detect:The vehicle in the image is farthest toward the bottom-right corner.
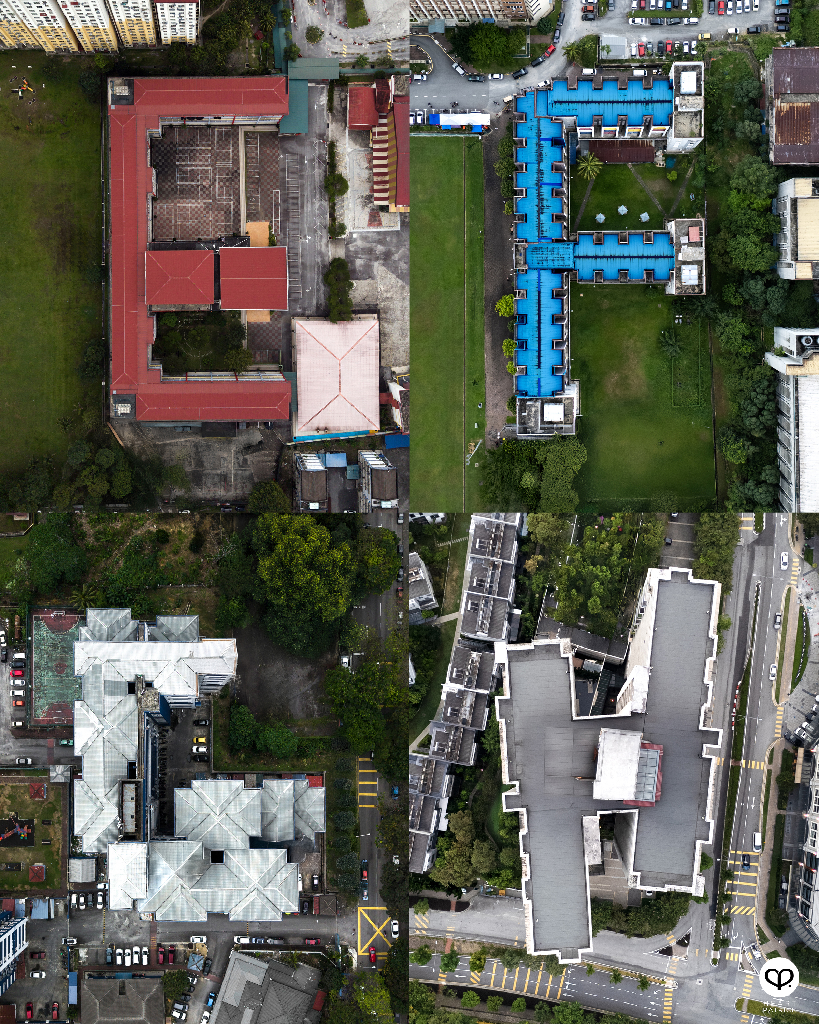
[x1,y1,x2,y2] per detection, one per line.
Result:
[751,944,764,963]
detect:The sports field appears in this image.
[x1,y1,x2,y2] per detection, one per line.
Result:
[0,48,101,512]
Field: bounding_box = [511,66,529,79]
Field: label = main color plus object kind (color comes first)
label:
black vehicle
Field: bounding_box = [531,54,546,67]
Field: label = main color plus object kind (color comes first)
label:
black vehicle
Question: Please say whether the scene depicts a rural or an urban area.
urban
